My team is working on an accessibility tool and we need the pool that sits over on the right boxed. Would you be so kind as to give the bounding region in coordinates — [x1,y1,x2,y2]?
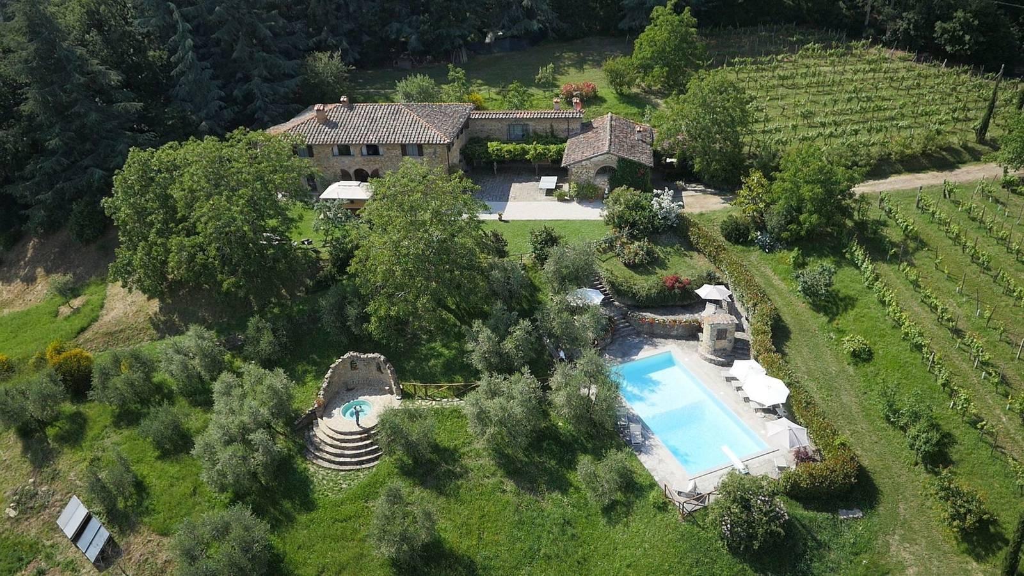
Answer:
[592,347,779,484]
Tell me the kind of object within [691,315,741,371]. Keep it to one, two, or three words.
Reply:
shed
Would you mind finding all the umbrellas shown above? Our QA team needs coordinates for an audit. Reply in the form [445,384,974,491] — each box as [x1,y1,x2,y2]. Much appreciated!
[741,375,790,417]
[695,285,730,312]
[569,287,605,307]
[770,416,816,455]
[690,467,698,496]
[728,359,766,382]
